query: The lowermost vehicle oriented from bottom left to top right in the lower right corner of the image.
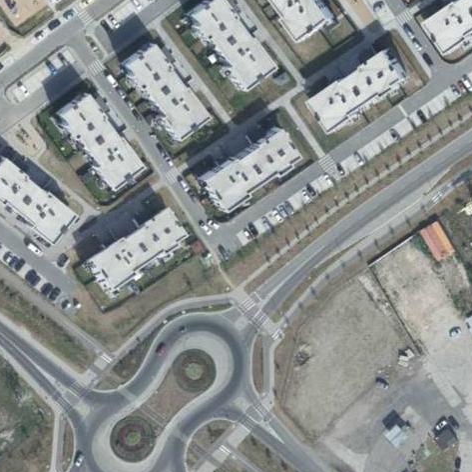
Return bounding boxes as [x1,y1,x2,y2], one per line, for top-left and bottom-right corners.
[433,418,450,433]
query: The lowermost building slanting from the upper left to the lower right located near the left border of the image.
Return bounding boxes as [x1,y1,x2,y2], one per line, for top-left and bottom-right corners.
[0,153,78,242]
